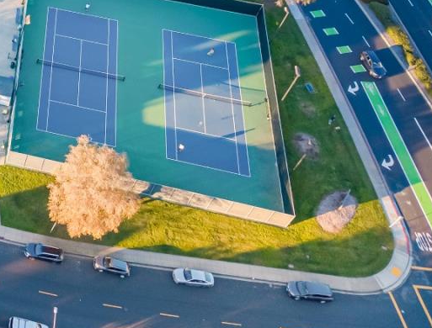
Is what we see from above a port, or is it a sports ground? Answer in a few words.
sports ground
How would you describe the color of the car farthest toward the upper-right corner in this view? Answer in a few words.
blue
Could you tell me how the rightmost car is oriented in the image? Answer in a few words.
diagonally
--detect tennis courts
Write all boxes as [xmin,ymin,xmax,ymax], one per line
[159,28,252,176]
[37,6,125,140]
[7,0,286,227]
